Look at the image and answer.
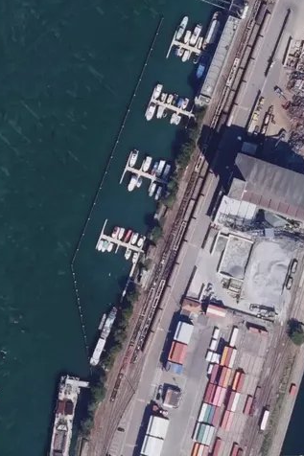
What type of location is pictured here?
port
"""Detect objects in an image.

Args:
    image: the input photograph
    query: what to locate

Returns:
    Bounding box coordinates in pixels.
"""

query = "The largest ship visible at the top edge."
[202,11,221,49]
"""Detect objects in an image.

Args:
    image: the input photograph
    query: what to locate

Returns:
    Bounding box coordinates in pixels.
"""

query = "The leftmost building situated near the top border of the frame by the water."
[201,16,240,99]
